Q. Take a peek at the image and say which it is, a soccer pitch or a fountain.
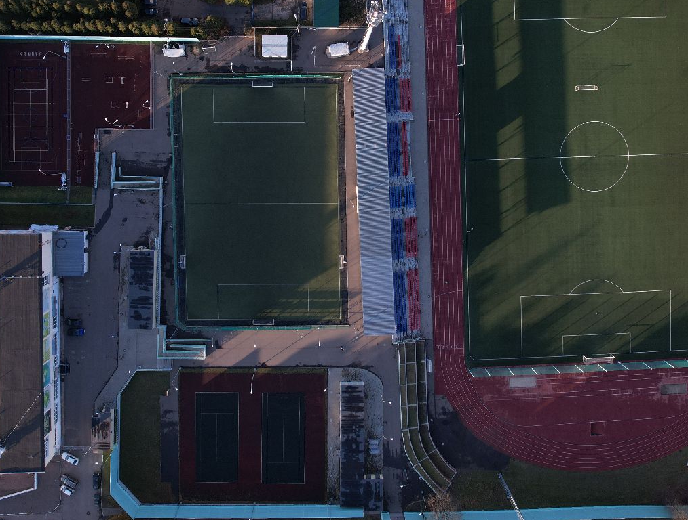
soccer pitch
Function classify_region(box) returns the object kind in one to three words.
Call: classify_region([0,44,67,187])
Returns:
sports court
